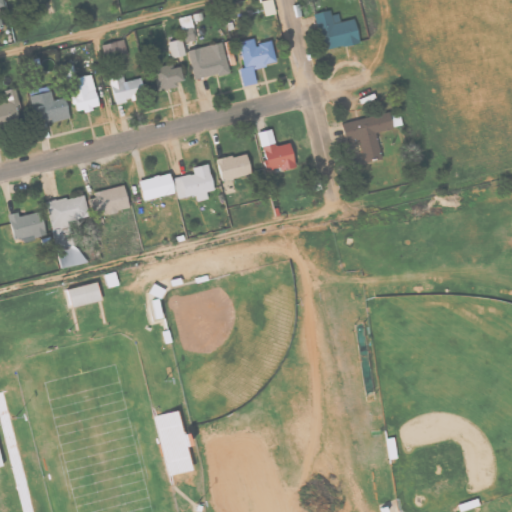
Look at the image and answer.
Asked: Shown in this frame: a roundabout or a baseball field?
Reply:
baseball field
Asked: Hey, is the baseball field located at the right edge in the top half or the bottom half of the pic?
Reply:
bottom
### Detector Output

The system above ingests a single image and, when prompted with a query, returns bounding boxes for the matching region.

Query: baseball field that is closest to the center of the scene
[164,258,297,424]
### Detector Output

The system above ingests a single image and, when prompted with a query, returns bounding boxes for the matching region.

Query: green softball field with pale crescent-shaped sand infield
[368,294,512,512]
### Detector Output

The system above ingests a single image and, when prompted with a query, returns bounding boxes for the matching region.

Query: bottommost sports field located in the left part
[45,365,154,512]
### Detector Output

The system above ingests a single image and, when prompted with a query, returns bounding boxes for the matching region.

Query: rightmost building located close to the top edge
[315,11,362,49]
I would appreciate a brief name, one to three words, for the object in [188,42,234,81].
house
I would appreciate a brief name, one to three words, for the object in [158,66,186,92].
house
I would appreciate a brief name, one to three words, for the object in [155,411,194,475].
building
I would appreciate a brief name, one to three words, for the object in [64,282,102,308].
building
